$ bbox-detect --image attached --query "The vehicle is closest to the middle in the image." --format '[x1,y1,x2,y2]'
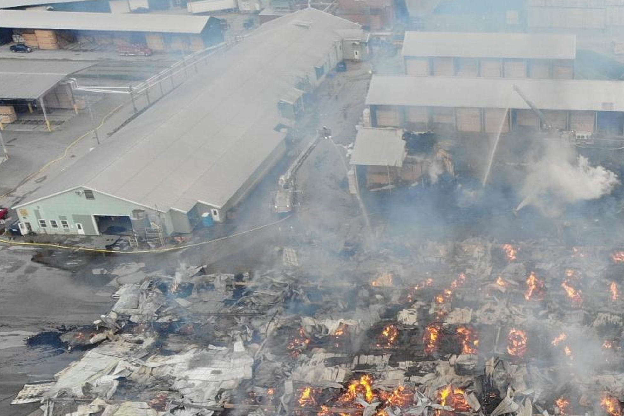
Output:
[273,125,330,209]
